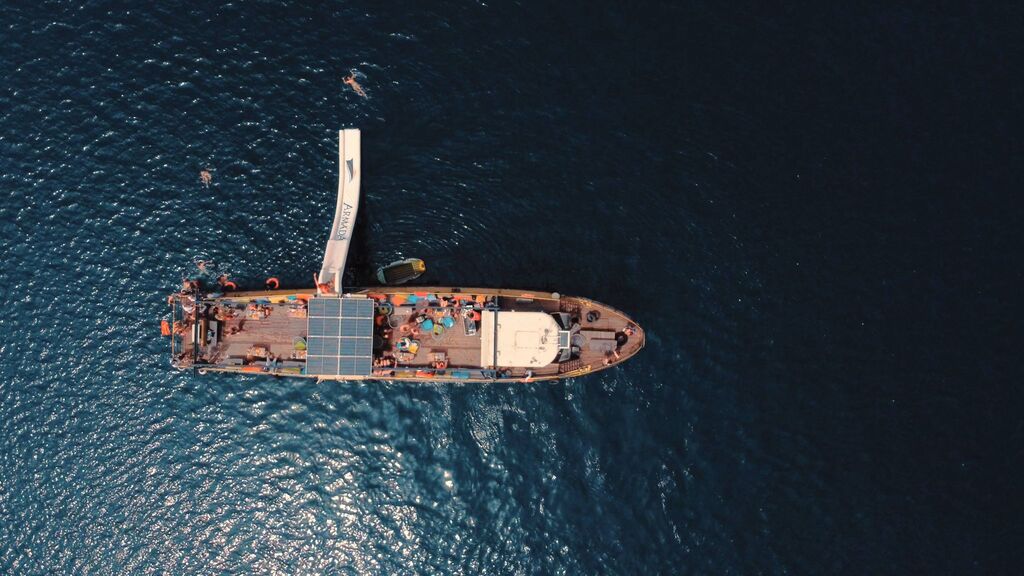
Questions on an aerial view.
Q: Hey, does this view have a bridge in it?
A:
No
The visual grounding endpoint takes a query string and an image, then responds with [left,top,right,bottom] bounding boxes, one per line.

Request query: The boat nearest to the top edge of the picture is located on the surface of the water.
[374,258,425,287]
